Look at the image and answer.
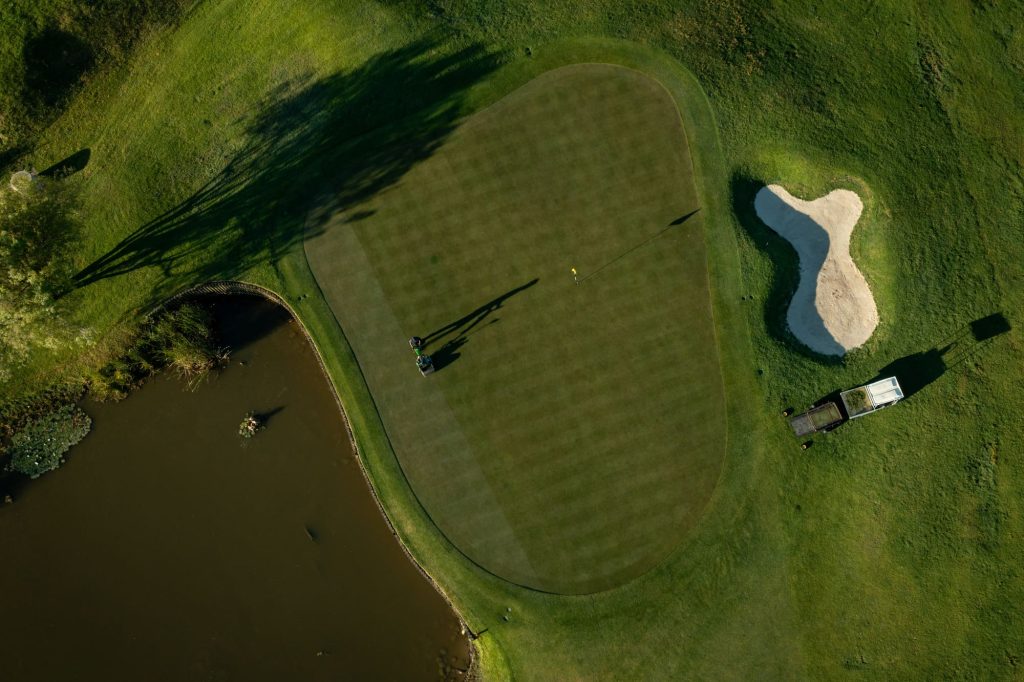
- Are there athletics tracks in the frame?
No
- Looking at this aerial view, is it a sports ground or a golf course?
golf course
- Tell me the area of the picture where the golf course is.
center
